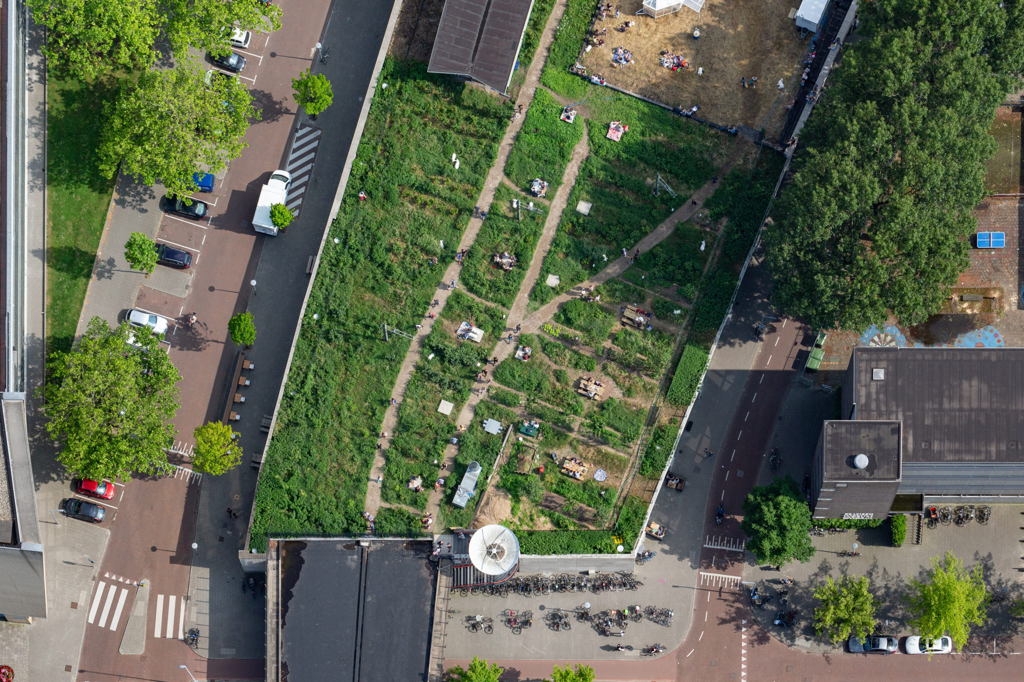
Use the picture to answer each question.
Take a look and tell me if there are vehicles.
Yes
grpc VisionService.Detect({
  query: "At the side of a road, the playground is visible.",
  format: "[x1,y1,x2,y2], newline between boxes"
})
[801,0,1024,386]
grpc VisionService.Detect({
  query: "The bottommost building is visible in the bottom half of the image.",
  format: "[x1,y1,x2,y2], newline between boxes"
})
[267,538,454,682]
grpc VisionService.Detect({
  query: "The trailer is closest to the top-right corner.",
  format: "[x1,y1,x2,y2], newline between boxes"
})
[796,0,829,38]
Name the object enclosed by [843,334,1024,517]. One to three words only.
building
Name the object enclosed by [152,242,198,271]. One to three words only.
car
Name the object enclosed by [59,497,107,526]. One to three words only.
car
